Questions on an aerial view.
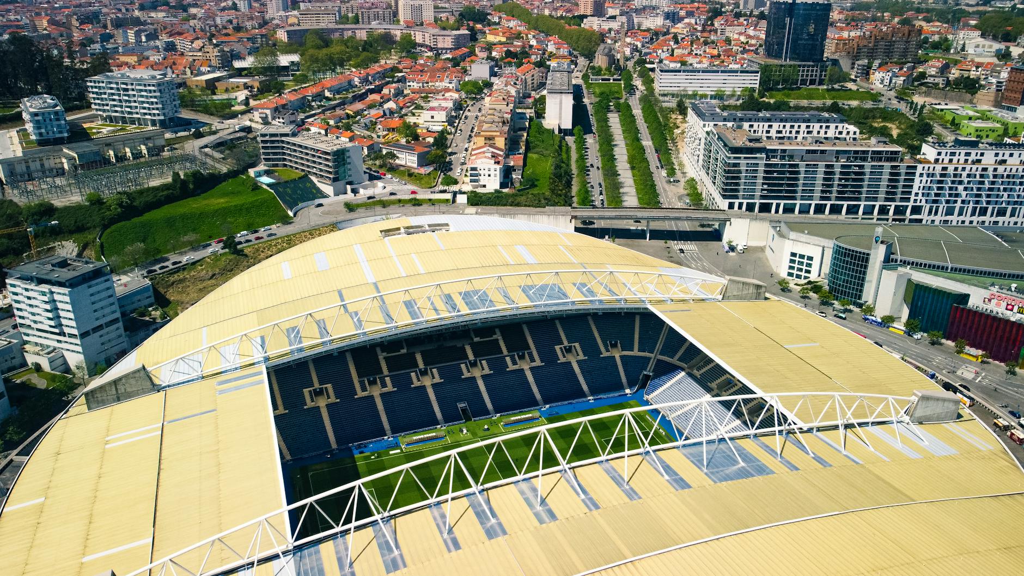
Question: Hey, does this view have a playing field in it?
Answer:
Yes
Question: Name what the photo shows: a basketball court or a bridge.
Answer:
bridge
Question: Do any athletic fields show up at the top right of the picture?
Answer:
No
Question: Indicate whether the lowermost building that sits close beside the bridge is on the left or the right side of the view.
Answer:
right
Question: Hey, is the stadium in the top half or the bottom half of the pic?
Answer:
bottom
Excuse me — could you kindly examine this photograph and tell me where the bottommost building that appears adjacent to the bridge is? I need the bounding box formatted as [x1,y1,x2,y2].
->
[766,215,1024,374]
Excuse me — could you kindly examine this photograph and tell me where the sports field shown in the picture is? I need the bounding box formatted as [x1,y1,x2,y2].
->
[288,400,674,534]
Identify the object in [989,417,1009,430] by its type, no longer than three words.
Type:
vehicle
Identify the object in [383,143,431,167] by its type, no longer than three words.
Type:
building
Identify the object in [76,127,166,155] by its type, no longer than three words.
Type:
building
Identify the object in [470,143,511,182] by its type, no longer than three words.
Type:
house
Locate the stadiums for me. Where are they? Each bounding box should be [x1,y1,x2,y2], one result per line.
[0,213,1024,576]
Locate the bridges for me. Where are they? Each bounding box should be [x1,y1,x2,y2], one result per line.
[572,207,729,239]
